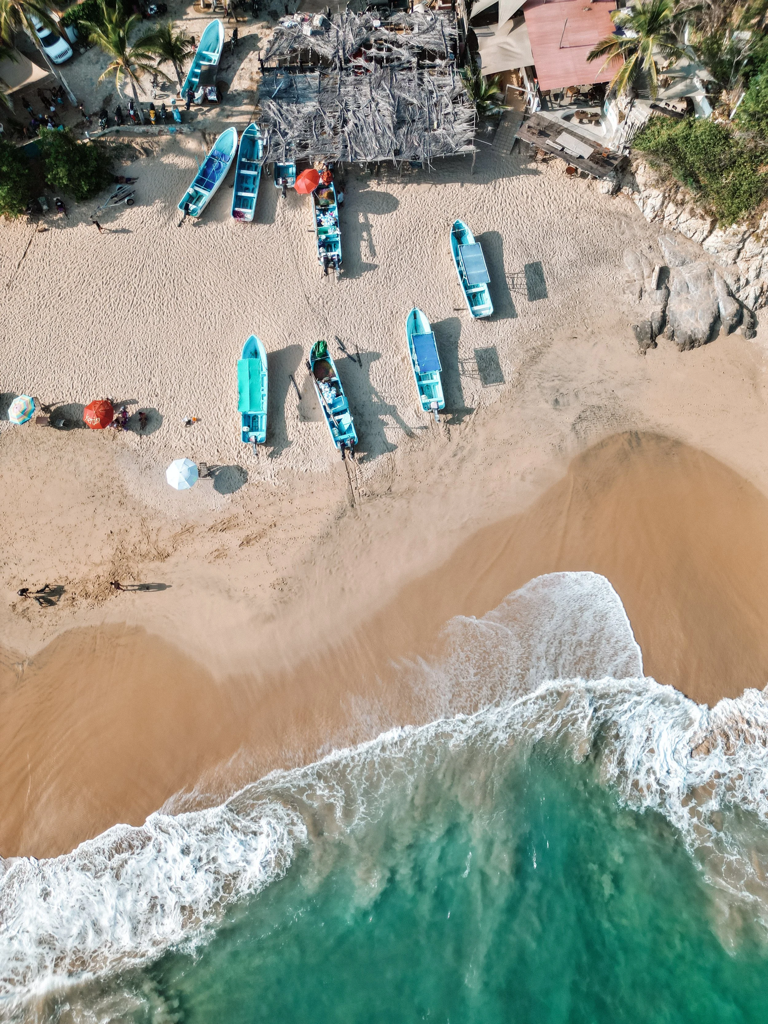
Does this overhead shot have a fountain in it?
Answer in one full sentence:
No, I can't see a single fountain in this photo.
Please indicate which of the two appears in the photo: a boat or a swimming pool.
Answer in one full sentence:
The image shows a boat.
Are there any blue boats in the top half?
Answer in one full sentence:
Yes, a blue boat is visible in the top half.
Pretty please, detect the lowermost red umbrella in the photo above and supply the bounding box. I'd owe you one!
[82,398,114,429]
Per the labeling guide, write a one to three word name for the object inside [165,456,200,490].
umbrella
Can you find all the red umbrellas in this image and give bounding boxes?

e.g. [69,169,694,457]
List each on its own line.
[294,171,320,193]
[82,398,114,429]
